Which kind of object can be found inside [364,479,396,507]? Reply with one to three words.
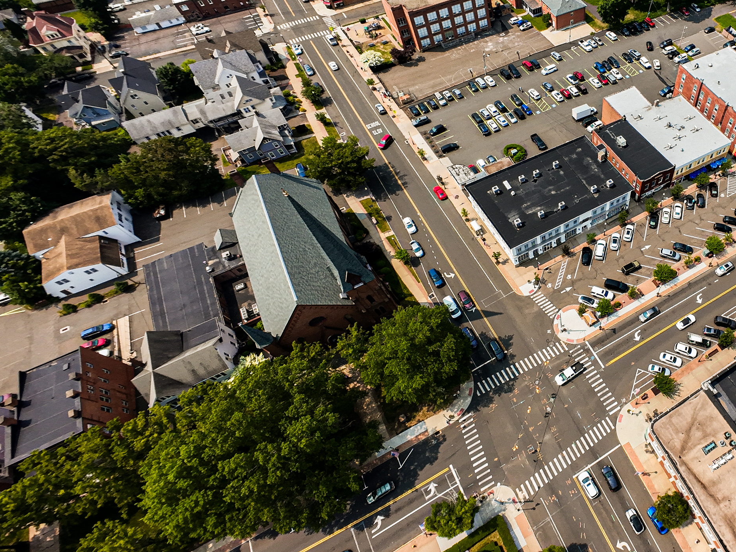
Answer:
car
